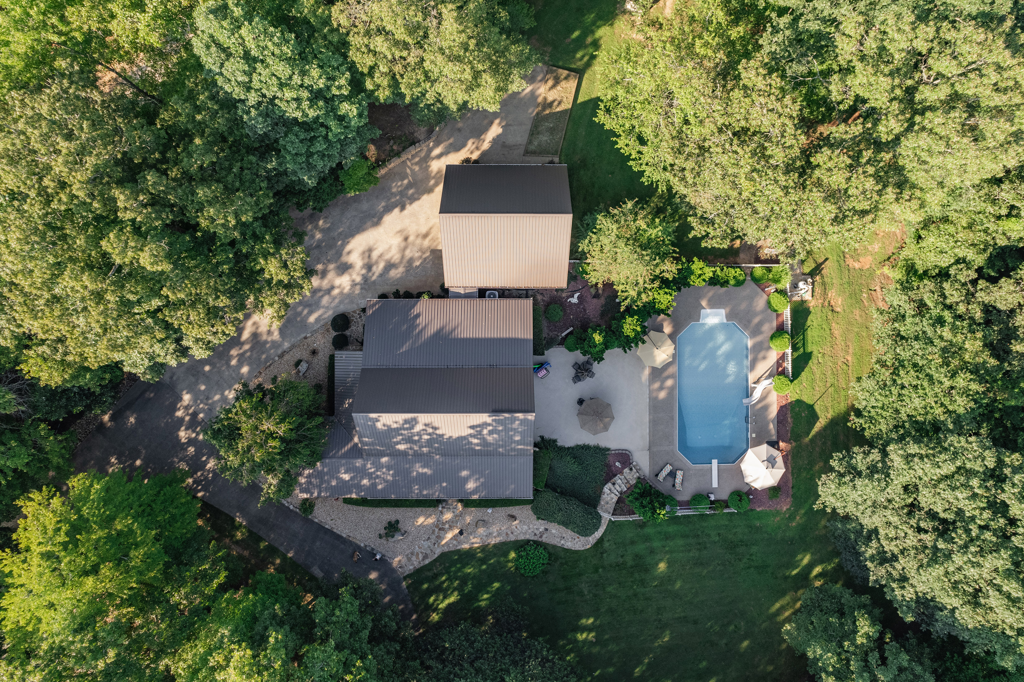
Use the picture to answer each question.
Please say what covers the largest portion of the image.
trees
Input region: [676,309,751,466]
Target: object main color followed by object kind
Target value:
blue swimming pool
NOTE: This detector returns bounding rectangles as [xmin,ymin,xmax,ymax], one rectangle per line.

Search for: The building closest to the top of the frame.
[439,163,573,289]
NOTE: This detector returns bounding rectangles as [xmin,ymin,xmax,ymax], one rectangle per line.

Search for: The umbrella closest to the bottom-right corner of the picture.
[740,439,788,490]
